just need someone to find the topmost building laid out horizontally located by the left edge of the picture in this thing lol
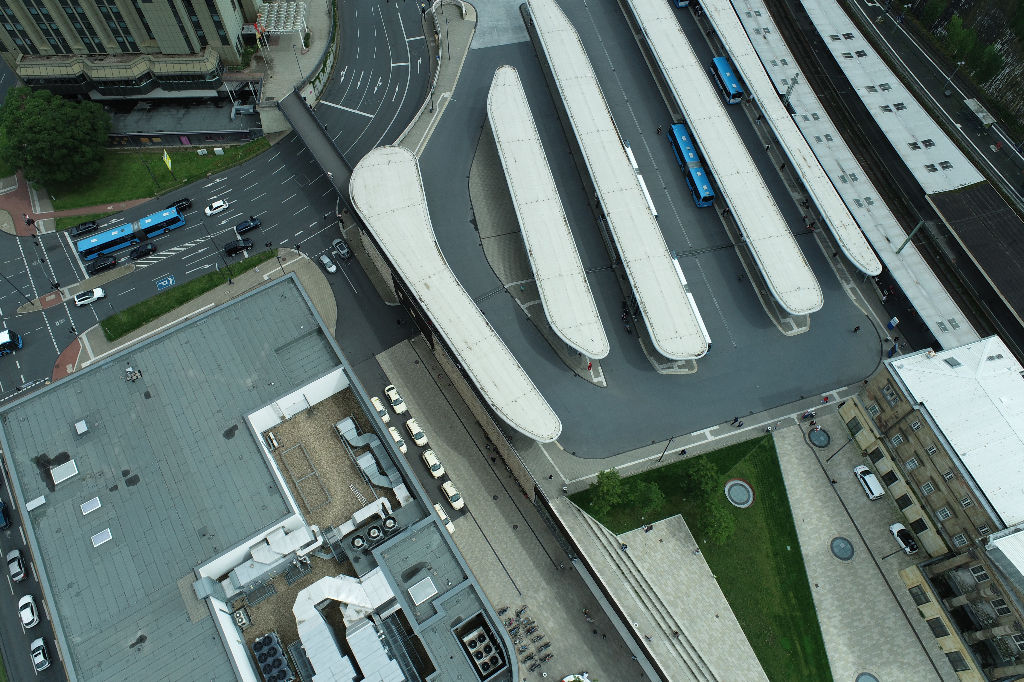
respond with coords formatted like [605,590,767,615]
[0,0,272,108]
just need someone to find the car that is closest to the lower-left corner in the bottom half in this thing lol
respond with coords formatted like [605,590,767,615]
[27,637,52,672]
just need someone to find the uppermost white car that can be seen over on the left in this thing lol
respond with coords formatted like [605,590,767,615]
[204,200,229,216]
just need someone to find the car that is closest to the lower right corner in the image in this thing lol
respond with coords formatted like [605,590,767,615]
[890,521,919,553]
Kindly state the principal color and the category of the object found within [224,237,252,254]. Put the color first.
black car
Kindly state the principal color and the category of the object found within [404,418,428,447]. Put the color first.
white car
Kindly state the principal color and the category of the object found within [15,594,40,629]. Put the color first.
white car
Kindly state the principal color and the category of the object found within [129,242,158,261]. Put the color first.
black car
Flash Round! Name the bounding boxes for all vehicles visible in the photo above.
[333,238,351,258]
[384,386,407,414]
[855,464,887,499]
[404,418,428,447]
[73,287,105,306]
[234,218,260,234]
[0,498,11,528]
[129,242,158,261]
[434,500,455,531]
[87,255,116,275]
[15,594,40,629]
[317,253,335,272]
[224,237,252,254]
[420,448,445,478]
[439,480,465,511]
[204,200,229,216]
[70,218,98,236]
[0,329,23,356]
[890,521,919,553]
[390,426,408,454]
[4,548,28,580]
[372,397,390,423]
[78,205,187,257]
[27,637,52,672]
[166,196,193,209]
